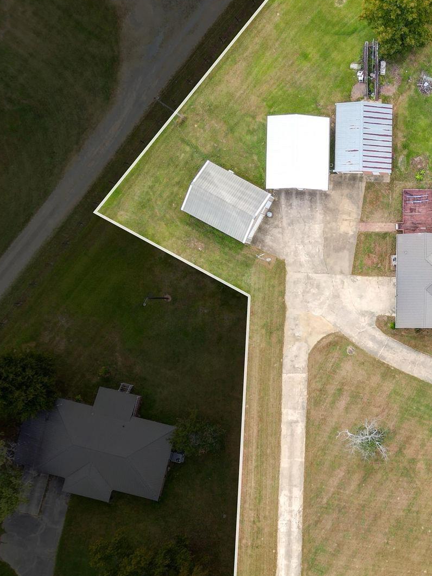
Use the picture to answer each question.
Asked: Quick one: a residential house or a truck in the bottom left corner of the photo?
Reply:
residential house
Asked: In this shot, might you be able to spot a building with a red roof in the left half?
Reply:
No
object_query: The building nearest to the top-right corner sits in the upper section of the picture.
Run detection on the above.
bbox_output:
[332,101,393,175]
